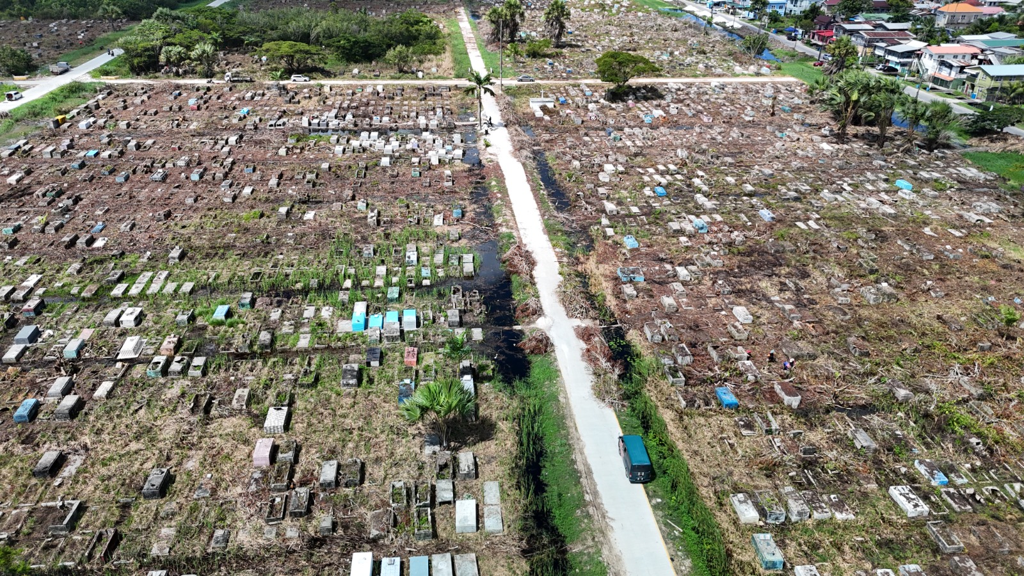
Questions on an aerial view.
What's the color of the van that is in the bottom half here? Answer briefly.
blue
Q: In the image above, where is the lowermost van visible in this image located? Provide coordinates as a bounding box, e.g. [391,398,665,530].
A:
[618,436,652,481]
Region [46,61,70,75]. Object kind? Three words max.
vehicle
